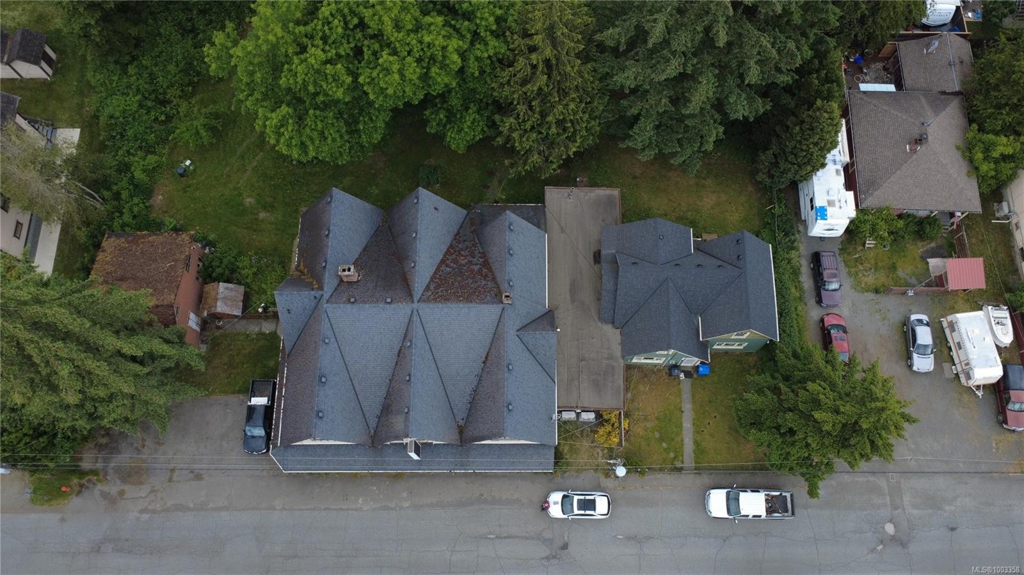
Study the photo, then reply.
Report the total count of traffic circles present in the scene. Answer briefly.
0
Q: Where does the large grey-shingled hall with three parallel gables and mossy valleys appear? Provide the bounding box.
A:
[269,187,561,474]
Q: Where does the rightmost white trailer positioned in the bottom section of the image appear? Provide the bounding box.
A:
[934,307,1003,402]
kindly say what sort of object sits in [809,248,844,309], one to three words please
car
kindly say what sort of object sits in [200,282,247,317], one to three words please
shed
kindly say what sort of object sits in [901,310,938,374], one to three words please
car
